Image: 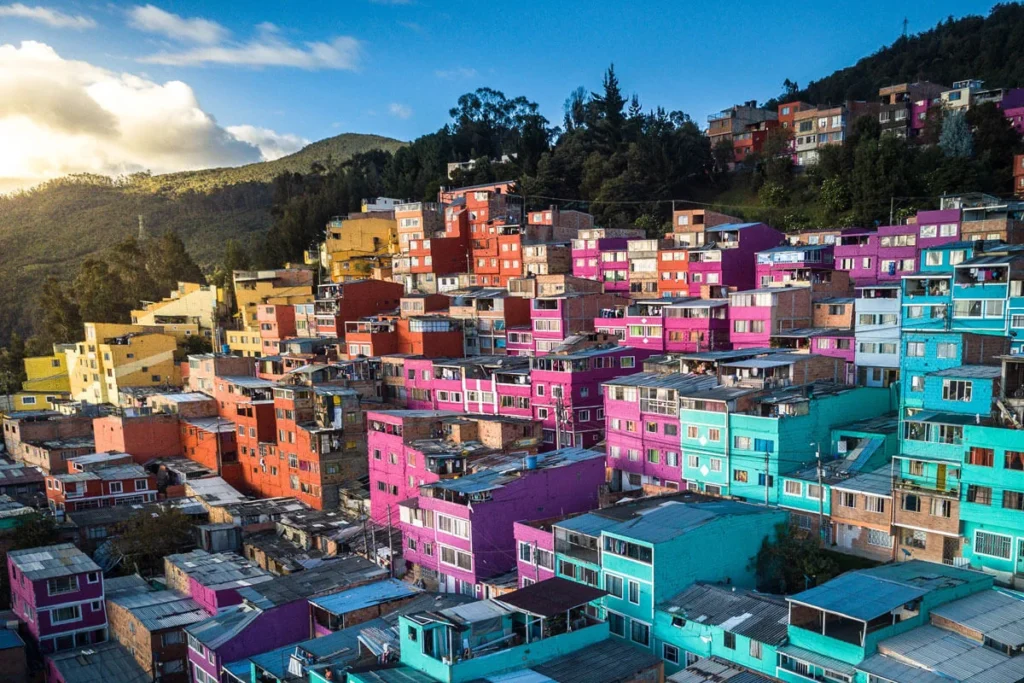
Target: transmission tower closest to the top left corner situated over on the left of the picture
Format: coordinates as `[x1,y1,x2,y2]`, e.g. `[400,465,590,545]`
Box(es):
[135,214,148,245]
